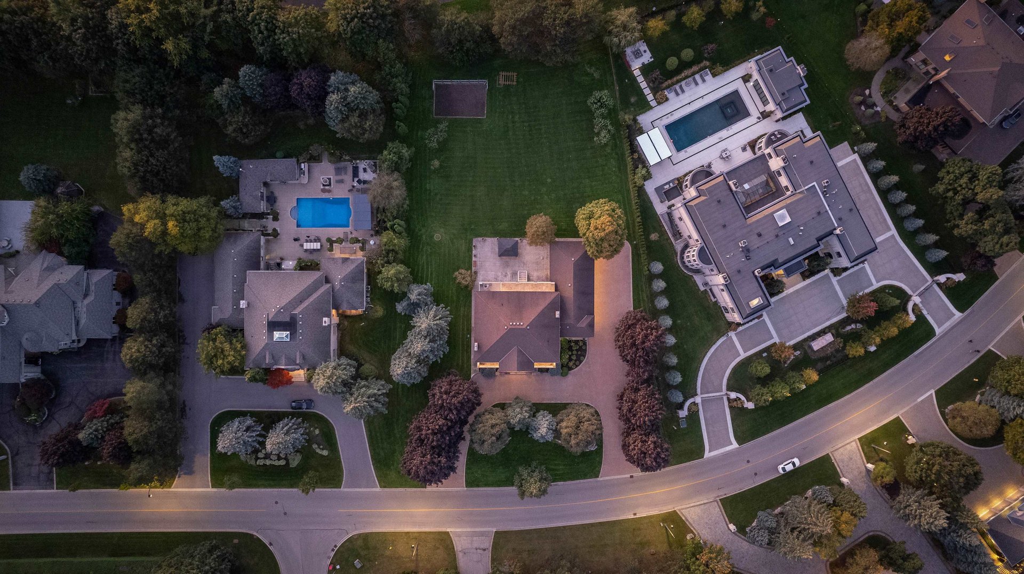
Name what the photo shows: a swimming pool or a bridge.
swimming pool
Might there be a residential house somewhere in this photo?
Yes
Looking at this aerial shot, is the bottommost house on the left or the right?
right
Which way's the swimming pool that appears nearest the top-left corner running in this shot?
from side to side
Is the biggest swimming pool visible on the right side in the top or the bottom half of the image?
top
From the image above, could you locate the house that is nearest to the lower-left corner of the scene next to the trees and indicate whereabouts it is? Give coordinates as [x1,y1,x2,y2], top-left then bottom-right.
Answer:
[0,250,124,384]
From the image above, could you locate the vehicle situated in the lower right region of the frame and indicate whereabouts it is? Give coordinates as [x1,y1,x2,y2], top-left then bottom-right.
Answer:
[777,458,800,474]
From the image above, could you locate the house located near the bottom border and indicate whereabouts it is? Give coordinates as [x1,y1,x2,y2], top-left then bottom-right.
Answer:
[970,476,1024,567]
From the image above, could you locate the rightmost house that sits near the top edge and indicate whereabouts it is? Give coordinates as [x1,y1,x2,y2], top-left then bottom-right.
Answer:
[898,0,1024,128]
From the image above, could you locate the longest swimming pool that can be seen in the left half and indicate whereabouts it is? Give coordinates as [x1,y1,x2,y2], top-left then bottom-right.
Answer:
[288,196,353,229]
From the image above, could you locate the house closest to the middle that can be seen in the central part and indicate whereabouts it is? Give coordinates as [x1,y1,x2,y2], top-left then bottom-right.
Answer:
[473,241,595,375]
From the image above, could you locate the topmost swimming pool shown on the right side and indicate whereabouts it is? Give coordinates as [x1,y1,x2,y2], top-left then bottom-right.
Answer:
[662,88,753,153]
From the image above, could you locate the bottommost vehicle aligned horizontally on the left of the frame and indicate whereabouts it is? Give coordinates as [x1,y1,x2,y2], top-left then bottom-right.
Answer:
[291,399,315,411]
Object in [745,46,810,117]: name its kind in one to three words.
shed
